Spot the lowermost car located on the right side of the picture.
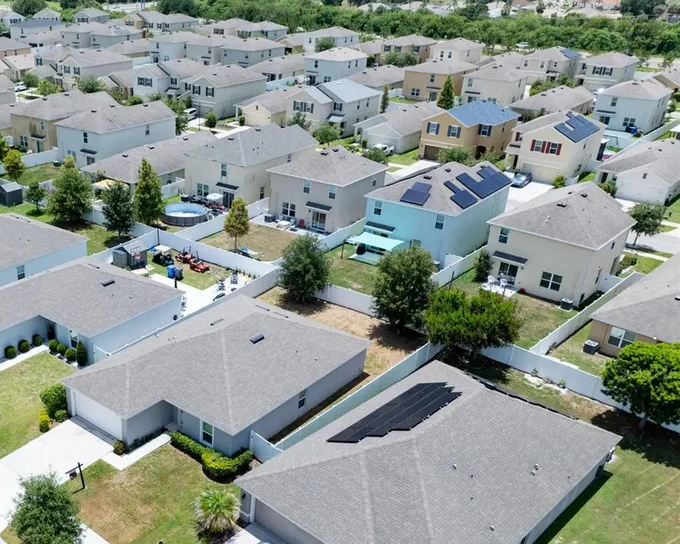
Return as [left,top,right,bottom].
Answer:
[510,172,531,186]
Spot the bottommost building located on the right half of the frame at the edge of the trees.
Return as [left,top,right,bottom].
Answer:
[234,360,622,544]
